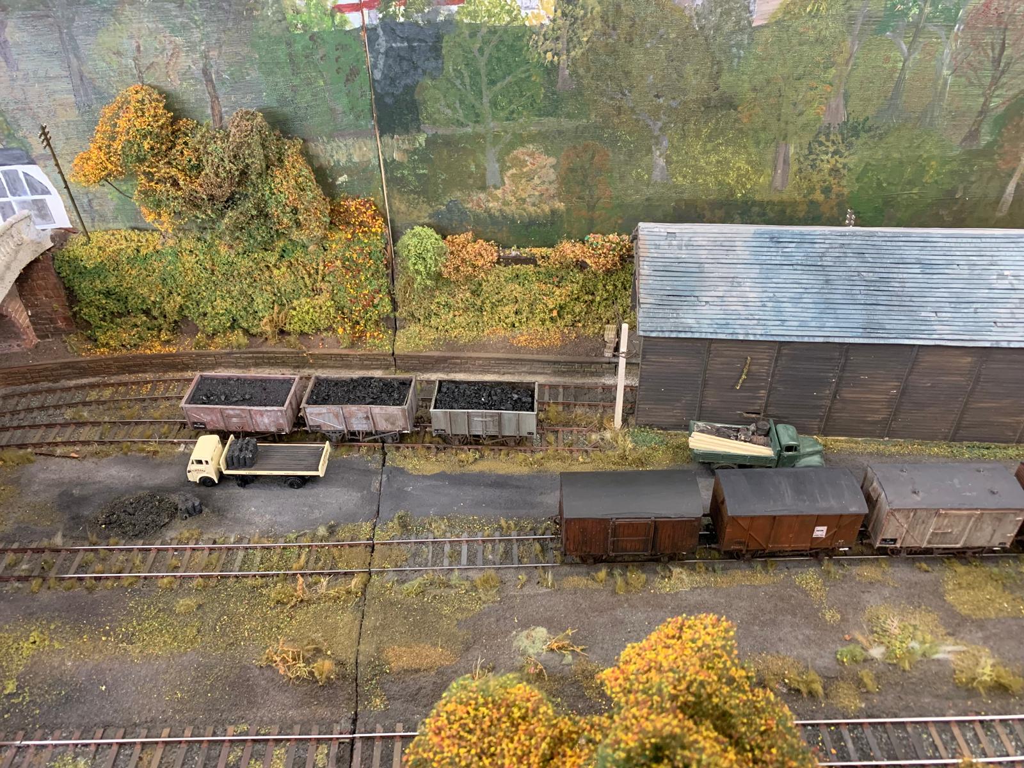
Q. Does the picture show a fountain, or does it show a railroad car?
railroad car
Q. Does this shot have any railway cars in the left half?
Yes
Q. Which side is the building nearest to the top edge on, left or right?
left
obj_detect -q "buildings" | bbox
[634,224,1024,445]
[0,147,81,235]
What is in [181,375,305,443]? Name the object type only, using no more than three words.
rail car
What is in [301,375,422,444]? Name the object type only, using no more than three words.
rail car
